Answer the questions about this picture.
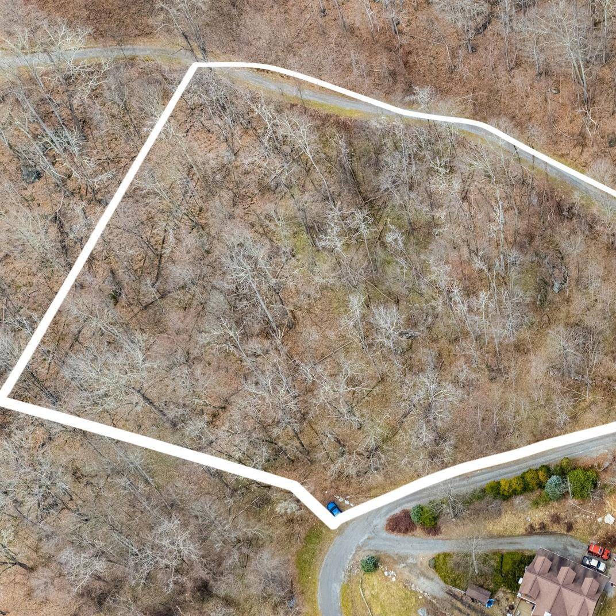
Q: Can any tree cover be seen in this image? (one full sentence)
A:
Yes, tree cover can be seen from above here.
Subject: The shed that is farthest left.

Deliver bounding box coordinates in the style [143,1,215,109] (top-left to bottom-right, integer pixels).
[464,584,492,606]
